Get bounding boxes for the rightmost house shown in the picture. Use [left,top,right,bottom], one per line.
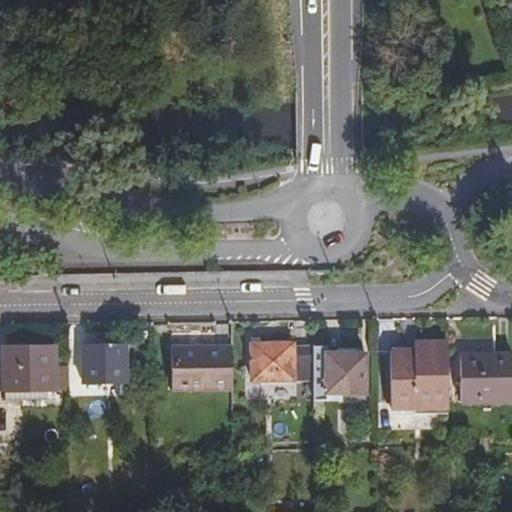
[461,351,512,406]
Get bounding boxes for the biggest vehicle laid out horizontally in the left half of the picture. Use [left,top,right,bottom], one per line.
[156,284,187,296]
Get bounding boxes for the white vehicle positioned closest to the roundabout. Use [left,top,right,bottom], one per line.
[310,143,322,172]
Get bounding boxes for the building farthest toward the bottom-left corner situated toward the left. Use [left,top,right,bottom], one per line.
[0,346,68,400]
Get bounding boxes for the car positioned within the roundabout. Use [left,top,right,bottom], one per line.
[323,232,344,246]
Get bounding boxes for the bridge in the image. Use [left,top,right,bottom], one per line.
[296,92,362,152]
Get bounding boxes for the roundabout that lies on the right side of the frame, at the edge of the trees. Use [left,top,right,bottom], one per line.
[278,184,374,265]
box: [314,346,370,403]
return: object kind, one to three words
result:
house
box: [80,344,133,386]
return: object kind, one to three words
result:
house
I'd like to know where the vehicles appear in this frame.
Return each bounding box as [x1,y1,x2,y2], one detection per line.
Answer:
[323,232,344,246]
[380,408,390,428]
[241,282,262,293]
[307,0,318,12]
[310,143,322,172]
[156,284,187,296]
[61,285,80,295]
